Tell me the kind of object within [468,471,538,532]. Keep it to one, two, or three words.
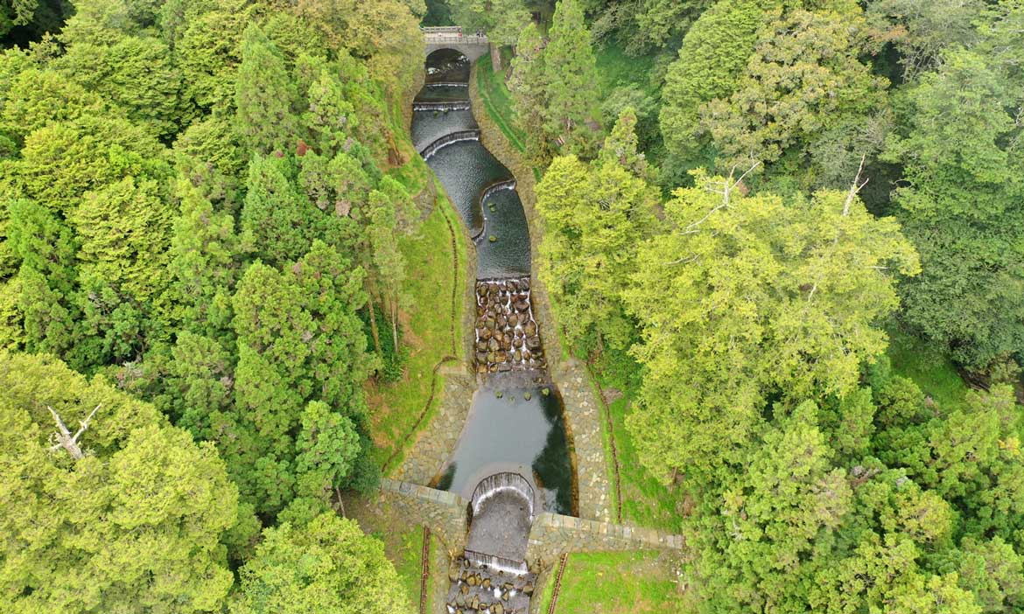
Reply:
dam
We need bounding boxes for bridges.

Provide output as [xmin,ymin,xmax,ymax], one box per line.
[365,29,492,78]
